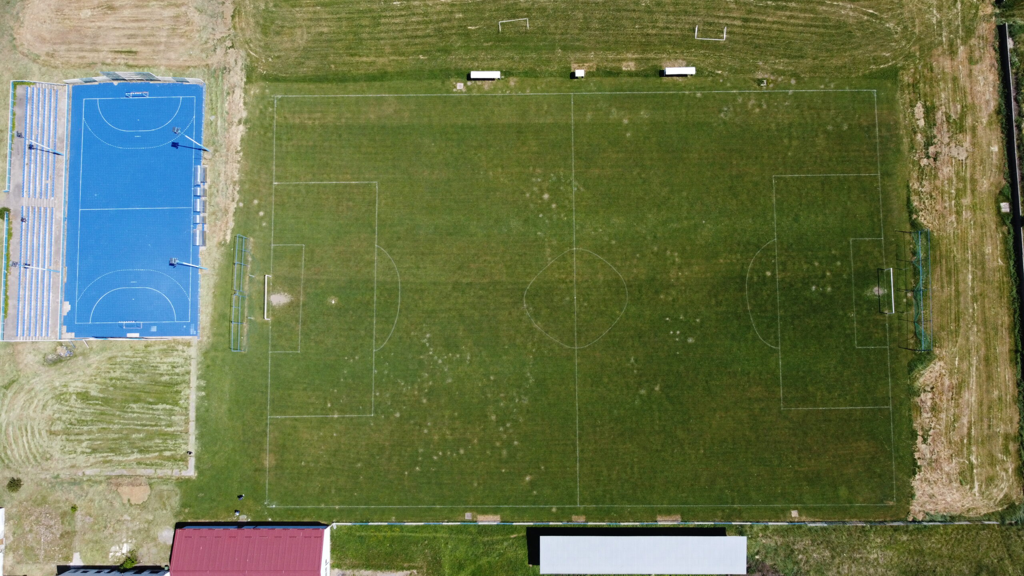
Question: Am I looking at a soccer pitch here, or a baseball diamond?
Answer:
soccer pitch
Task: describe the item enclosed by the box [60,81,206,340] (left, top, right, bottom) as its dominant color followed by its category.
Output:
blue sports court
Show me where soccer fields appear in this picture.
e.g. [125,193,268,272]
[250,87,901,514]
